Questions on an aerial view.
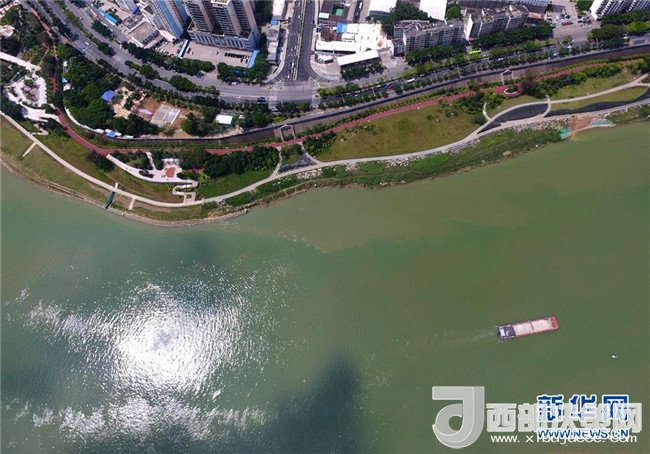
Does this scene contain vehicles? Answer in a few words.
No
